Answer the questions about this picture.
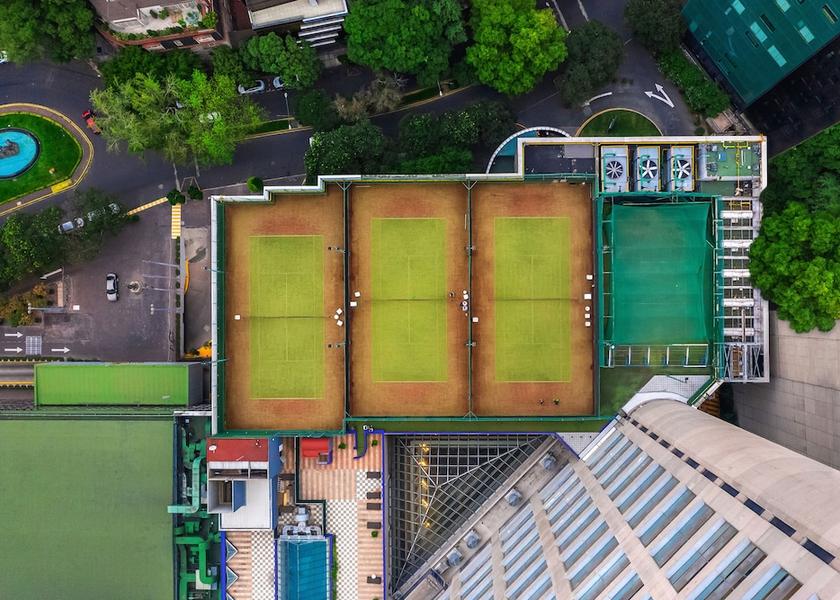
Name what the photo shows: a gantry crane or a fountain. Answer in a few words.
fountain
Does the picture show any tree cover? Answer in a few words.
Yes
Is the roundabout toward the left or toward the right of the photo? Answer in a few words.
left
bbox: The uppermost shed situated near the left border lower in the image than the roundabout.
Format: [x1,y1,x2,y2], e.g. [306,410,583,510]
[34,360,206,405]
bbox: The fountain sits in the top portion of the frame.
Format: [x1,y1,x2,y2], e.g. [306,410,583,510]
[0,126,39,179]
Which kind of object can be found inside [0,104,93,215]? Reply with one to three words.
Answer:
roundabout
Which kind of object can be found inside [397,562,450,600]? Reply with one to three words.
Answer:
building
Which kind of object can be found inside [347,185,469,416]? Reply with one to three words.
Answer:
tennis court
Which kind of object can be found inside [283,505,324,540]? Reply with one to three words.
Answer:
fountain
